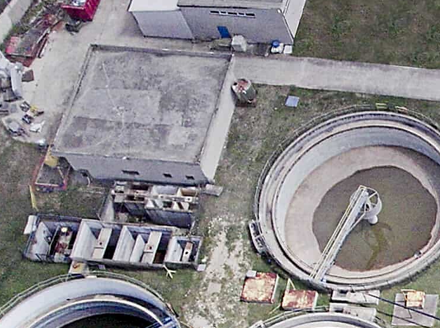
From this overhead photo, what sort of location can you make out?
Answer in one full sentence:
What you see here is an industrial area.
